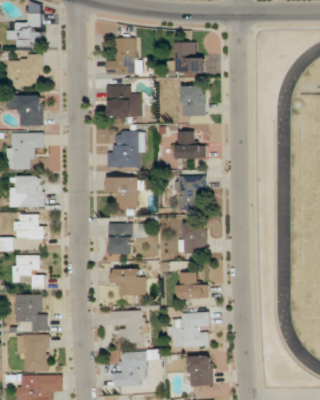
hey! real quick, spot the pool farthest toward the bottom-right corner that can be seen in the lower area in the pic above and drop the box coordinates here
[172,374,184,396]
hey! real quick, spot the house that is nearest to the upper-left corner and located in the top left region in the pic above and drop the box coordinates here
[6,0,41,48]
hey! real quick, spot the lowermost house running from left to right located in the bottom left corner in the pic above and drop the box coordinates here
[5,374,62,400]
